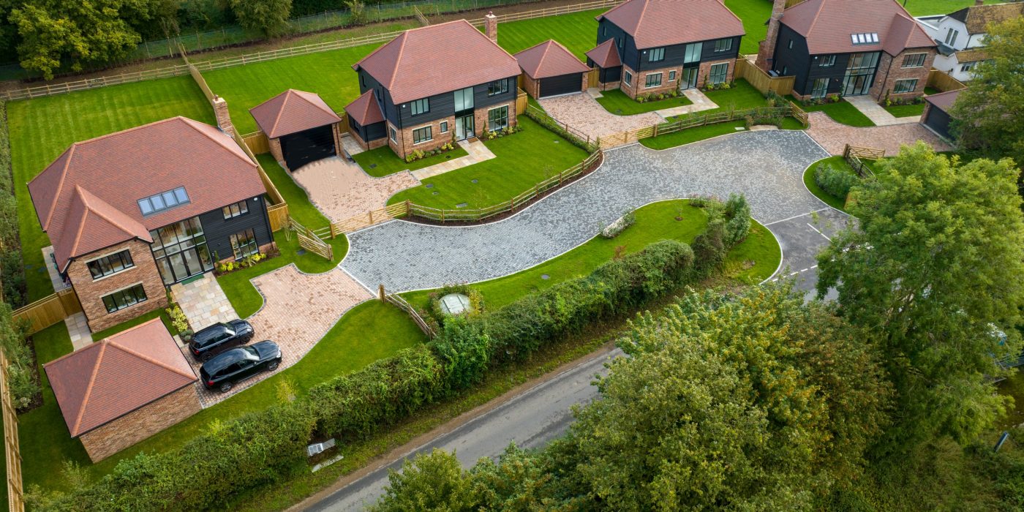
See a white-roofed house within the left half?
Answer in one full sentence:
No, I can find no white-roofed house within the left half.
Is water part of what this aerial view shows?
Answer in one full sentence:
No, the picture contains no water.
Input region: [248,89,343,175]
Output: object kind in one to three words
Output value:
building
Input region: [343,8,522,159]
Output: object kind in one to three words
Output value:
house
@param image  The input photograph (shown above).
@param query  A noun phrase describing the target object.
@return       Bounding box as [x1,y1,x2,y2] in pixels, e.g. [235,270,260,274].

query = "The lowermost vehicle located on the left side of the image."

[197,340,283,395]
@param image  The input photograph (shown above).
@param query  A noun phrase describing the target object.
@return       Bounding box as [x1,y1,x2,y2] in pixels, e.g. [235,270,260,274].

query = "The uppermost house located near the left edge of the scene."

[25,92,275,332]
